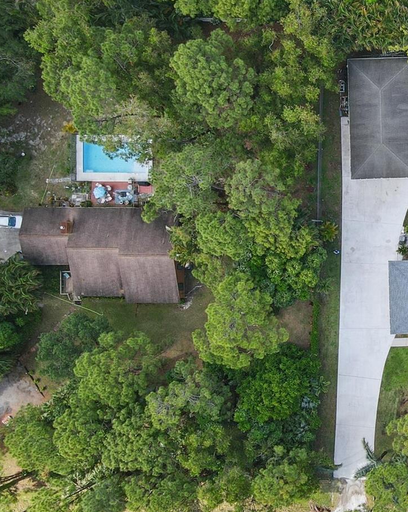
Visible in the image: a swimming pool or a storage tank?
swimming pool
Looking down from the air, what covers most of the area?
trees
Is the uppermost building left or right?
right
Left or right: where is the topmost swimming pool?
left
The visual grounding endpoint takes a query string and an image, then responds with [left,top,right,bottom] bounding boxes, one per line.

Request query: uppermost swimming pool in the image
[81,140,150,174]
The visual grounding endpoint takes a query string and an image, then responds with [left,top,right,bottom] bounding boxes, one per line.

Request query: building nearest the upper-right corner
[347,57,408,180]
